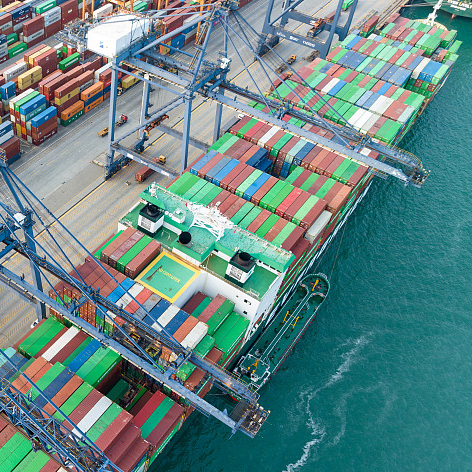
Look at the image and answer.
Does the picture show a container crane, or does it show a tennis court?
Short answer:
container crane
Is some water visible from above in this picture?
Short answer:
Yes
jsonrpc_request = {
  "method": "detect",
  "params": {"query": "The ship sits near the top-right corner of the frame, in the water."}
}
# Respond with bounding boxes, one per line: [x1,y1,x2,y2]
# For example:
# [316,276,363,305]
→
[438,0,472,22]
